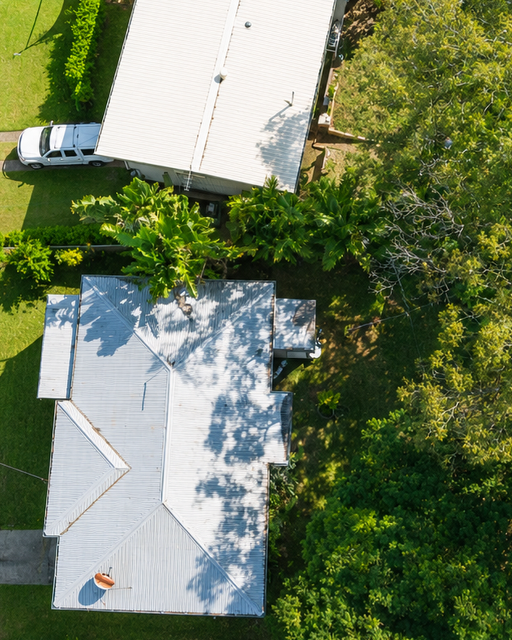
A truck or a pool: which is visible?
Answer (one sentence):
This aerial view contains a truck.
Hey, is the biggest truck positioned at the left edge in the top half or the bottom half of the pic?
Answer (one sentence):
The top half of the photo is where the biggest truck positioned at the left edge is.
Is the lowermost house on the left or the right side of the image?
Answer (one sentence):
The lowermost house appears in the left half of the scene.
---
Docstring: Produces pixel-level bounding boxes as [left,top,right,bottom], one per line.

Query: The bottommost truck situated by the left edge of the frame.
[15,119,109,165]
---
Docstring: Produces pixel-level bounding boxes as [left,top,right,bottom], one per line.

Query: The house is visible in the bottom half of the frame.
[36,272,316,619]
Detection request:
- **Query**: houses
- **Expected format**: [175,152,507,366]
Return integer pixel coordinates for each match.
[93,0,349,208]
[36,272,316,619]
